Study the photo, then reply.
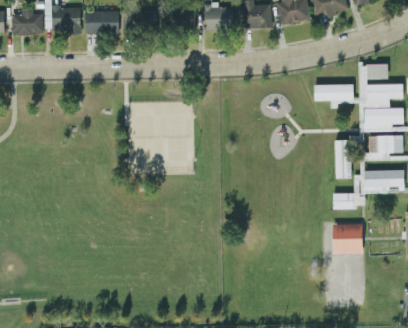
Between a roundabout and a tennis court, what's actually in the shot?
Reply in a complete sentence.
The one in the frame is a tennis court.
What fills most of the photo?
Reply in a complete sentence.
The bulk of the photo consists of grass.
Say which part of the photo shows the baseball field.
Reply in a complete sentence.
The baseball field sits in the bottom left section of the image.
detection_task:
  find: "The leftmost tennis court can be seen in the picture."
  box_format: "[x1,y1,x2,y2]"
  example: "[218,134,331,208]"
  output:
[130,103,162,174]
